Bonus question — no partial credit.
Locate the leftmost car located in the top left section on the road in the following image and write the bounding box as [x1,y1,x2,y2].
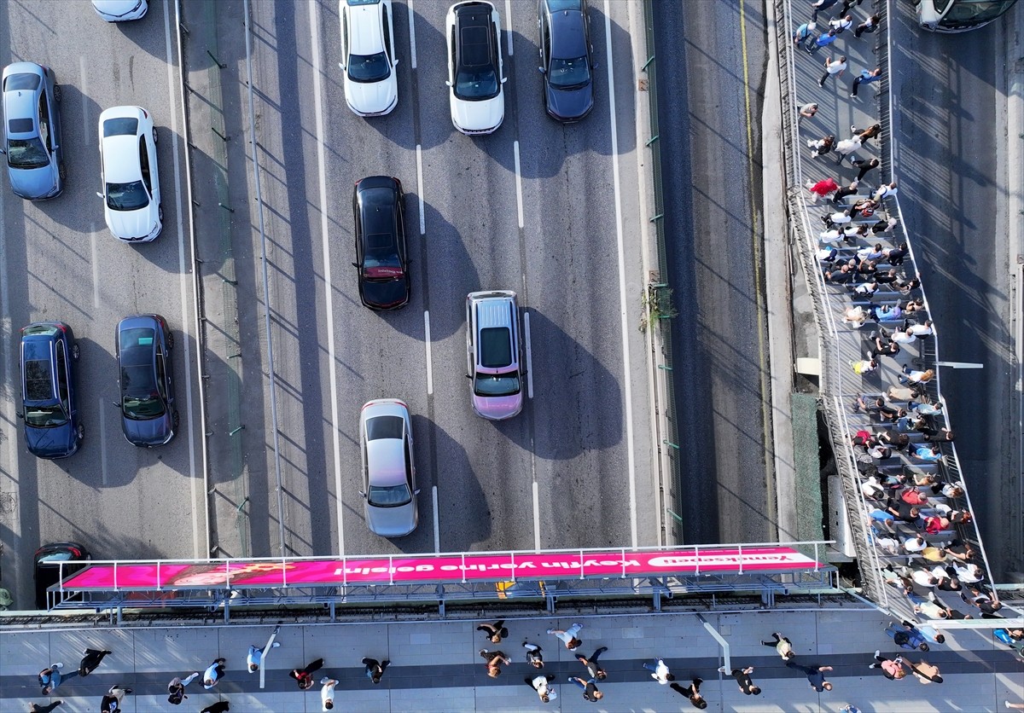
[0,63,70,200]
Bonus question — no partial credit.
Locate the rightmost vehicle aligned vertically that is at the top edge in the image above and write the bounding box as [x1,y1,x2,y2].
[536,0,600,127]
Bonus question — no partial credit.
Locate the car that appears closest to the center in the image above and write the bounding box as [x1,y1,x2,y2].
[464,290,529,420]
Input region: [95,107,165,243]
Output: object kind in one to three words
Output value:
car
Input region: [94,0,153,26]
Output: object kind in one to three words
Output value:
car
